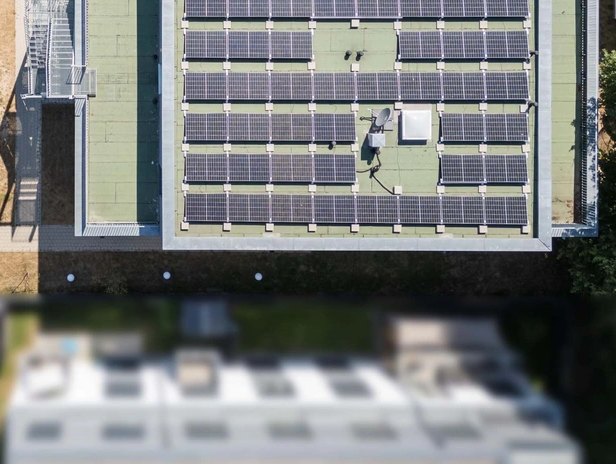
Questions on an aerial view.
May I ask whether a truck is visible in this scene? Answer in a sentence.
No, there isn't any truck down there.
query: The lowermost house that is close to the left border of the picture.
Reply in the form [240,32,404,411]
[5,357,164,464]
